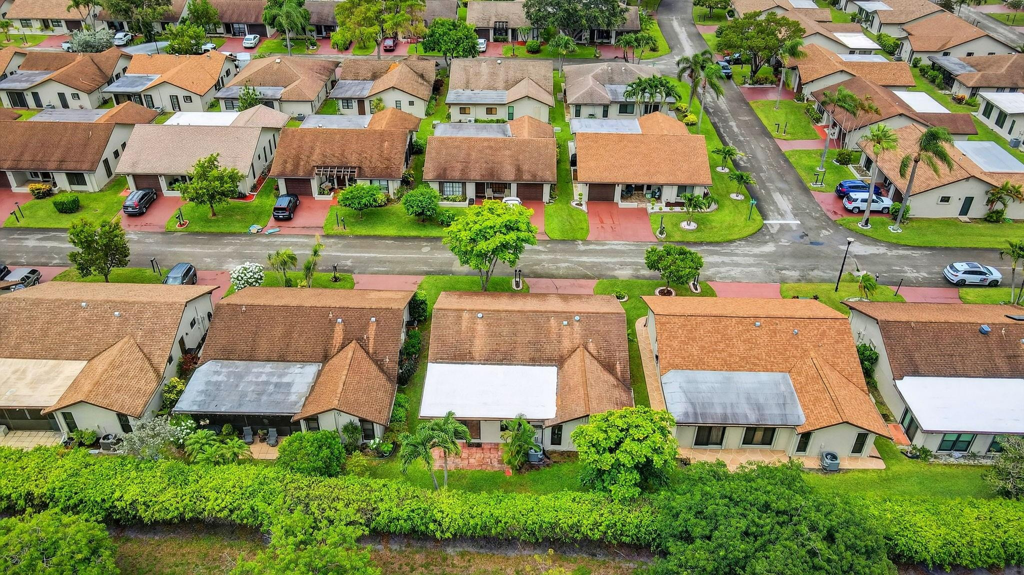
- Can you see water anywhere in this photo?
No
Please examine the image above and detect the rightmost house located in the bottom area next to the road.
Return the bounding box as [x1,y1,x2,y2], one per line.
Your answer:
[841,301,1024,459]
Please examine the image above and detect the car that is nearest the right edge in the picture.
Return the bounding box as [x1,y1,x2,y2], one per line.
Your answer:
[941,261,1009,291]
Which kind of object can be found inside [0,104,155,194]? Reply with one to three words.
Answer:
house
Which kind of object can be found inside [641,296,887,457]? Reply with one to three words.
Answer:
house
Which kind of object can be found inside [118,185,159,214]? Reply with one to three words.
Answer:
car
